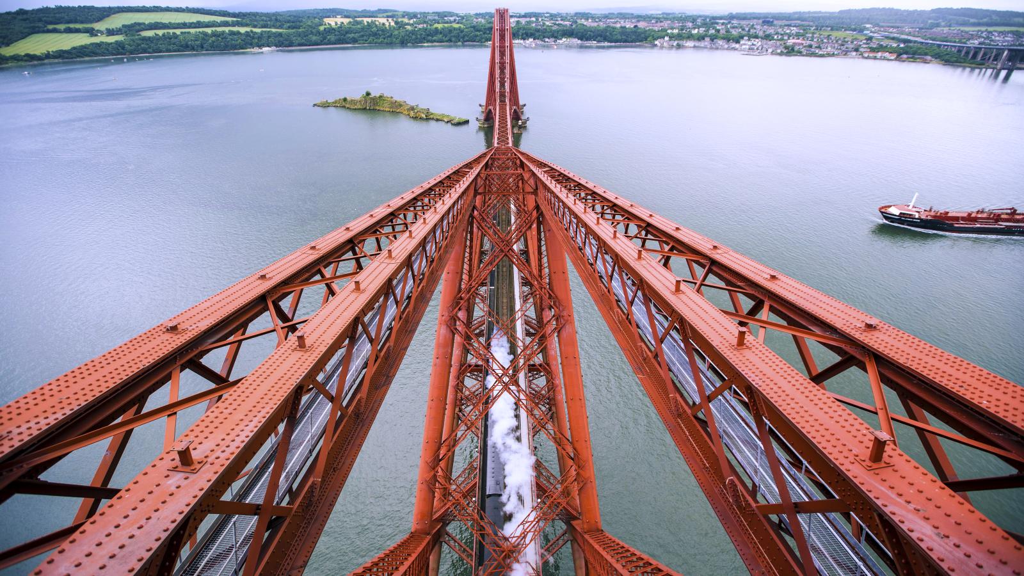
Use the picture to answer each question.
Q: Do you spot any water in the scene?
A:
Yes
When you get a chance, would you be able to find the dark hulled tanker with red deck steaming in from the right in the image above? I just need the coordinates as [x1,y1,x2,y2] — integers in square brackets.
[882,192,1024,240]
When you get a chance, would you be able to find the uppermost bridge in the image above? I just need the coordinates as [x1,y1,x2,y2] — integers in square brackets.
[884,37,1024,71]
